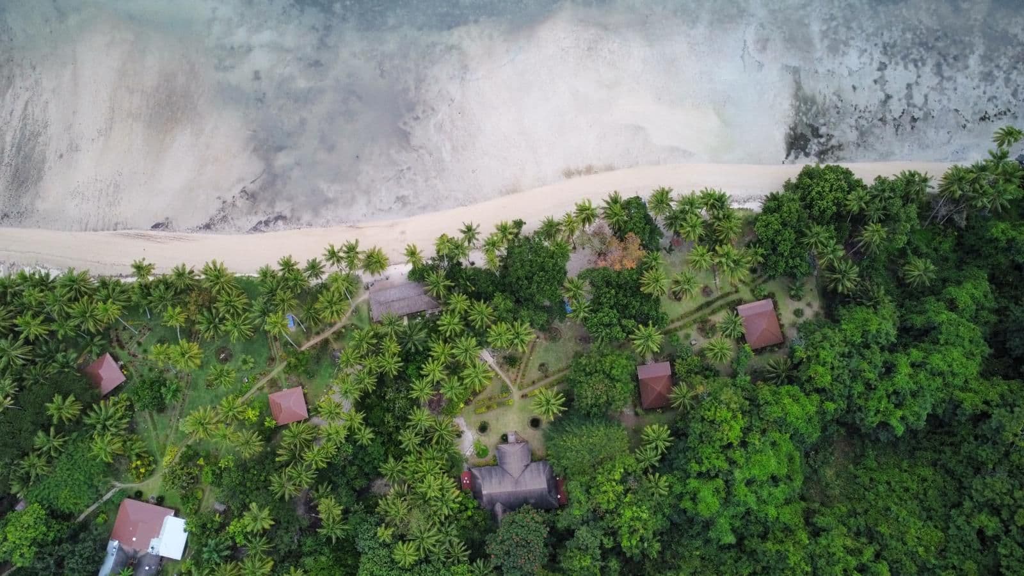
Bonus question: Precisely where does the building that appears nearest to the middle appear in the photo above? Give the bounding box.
[369,282,441,323]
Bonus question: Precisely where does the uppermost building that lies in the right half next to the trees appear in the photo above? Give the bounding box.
[735,299,785,351]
